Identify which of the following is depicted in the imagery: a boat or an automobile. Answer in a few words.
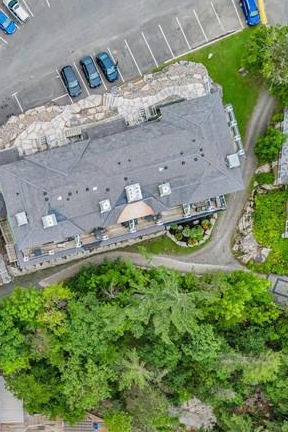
automobile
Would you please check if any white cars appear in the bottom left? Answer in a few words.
No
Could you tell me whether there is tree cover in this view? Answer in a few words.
Yes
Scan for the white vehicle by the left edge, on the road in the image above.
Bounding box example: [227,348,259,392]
[5,0,30,21]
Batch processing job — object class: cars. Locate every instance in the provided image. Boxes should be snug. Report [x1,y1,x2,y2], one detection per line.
[97,49,120,82]
[81,54,103,87]
[0,6,18,33]
[5,0,30,21]
[242,0,261,22]
[61,62,84,96]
